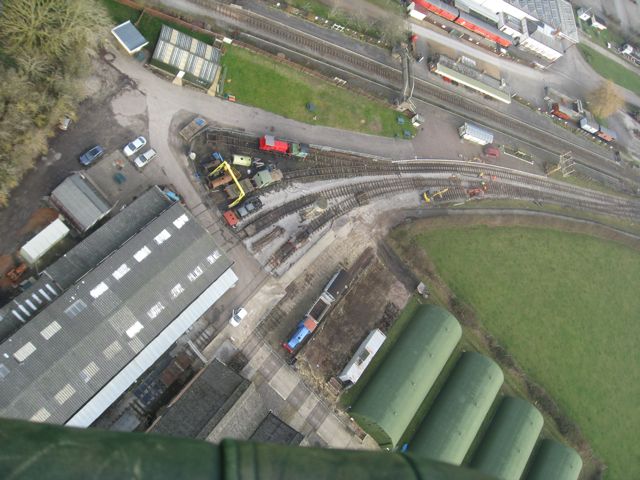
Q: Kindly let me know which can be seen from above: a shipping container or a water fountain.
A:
shipping container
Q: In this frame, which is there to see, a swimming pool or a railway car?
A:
railway car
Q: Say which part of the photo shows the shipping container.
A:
left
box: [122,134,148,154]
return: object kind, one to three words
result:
car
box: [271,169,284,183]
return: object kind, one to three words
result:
rail car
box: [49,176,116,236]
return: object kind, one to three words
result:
shed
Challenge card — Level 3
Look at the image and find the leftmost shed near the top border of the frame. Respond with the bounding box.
[110,22,149,59]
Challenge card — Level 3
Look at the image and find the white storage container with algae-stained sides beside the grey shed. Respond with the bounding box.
[21,219,71,263]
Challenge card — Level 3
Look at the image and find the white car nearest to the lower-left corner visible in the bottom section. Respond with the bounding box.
[228,306,249,328]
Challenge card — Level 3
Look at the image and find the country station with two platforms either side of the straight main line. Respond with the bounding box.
[216,0,622,178]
